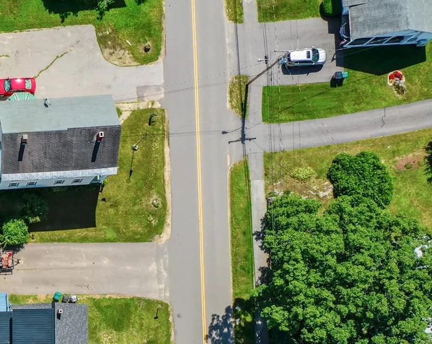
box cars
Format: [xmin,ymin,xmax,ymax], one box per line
[0,77,36,99]
[279,48,324,72]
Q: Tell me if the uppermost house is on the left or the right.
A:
right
